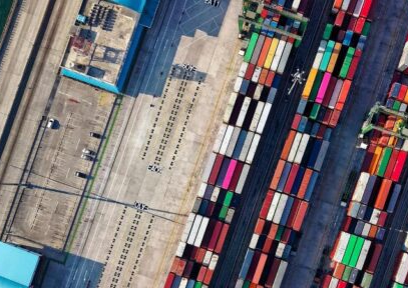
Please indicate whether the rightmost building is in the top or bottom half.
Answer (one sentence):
You can find the rightmost building in the top half.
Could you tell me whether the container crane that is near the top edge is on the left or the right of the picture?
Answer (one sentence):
You can find the container crane that is near the top edge on the right side of the picture.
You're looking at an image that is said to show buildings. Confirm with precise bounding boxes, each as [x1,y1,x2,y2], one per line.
[0,239,50,288]
[62,0,161,95]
